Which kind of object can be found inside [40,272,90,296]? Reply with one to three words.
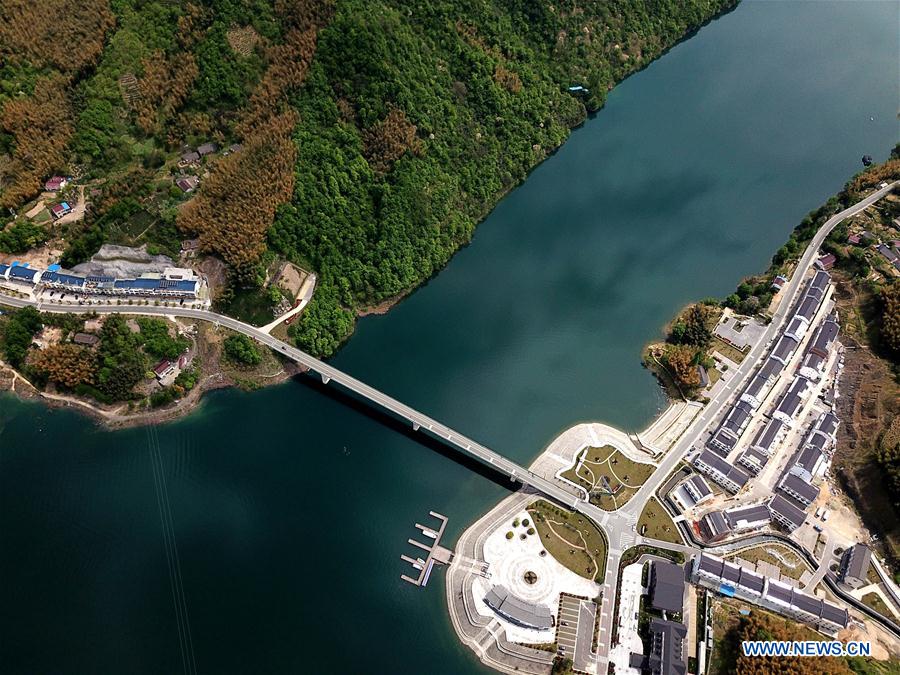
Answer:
house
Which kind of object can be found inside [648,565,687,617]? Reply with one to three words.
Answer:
building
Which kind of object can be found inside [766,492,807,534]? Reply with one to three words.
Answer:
building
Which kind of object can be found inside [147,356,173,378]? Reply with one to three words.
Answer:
house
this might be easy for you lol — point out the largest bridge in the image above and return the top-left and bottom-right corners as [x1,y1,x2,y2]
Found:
[294,351,580,513]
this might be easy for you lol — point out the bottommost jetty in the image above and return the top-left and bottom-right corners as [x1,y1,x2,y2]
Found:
[401,512,457,586]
